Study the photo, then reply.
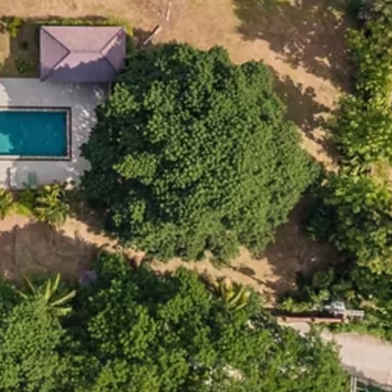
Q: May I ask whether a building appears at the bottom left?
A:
No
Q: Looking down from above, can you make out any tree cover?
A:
Yes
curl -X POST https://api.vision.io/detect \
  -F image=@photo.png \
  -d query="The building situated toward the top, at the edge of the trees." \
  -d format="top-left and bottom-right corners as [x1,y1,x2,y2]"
[37,26,127,81]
